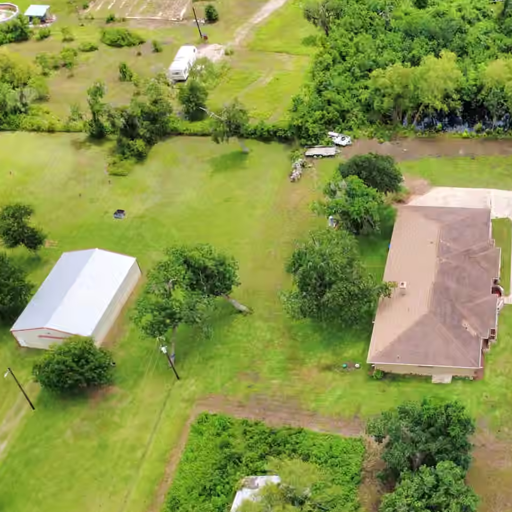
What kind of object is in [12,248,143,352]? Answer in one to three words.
barn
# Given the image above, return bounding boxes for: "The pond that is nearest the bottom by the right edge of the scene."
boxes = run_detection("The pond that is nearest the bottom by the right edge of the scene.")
[403,110,512,134]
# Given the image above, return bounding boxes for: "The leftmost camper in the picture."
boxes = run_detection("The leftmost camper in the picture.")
[171,44,196,81]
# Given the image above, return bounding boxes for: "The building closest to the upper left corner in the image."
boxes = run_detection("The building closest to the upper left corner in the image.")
[24,5,53,27]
